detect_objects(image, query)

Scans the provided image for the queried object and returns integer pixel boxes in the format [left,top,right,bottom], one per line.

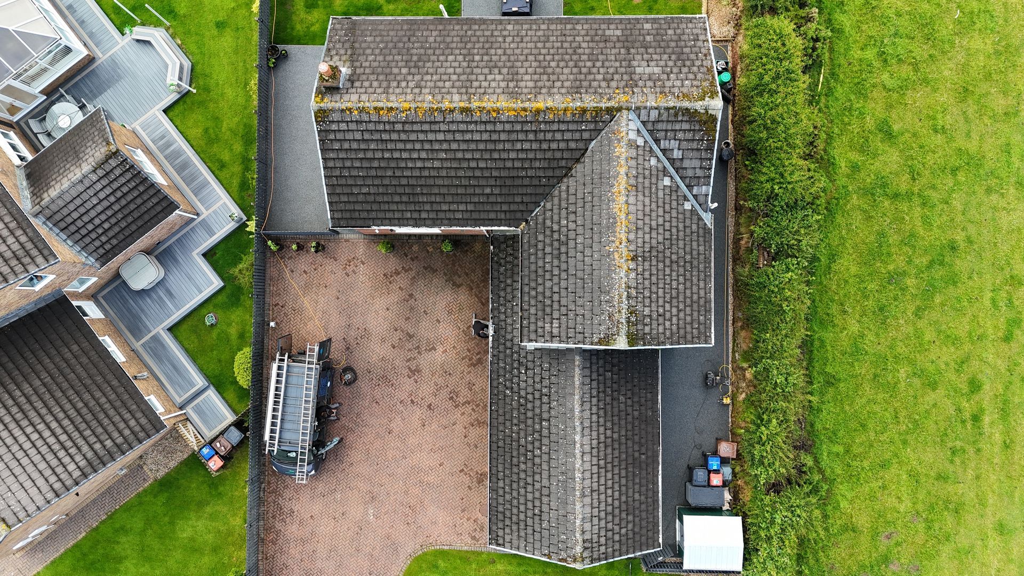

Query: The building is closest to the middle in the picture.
[312,4,724,570]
